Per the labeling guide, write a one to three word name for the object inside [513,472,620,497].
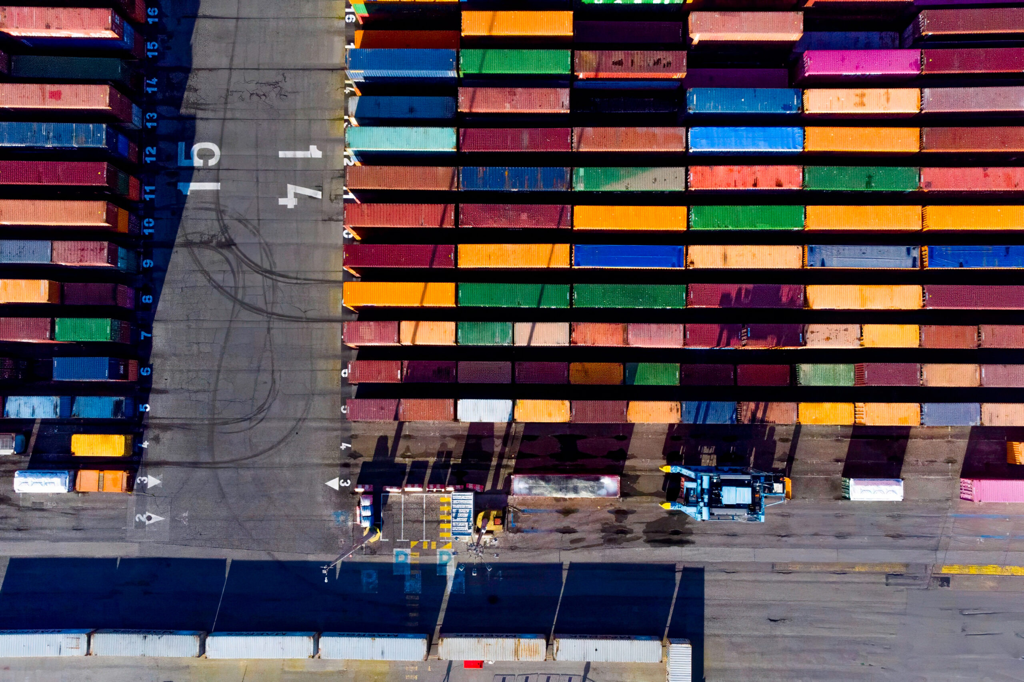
shipping container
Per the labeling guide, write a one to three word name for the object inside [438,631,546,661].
shipping container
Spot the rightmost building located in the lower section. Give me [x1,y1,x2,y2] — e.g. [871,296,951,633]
[452,489,475,536]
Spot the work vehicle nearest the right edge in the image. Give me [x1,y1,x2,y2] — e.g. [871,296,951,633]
[658,465,789,522]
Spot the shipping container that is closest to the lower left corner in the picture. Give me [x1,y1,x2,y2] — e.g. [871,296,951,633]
[0,627,100,656]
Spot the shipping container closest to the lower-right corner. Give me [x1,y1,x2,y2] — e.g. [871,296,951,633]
[959,477,1024,502]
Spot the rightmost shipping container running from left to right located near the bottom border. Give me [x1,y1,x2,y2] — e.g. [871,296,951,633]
[553,633,662,663]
